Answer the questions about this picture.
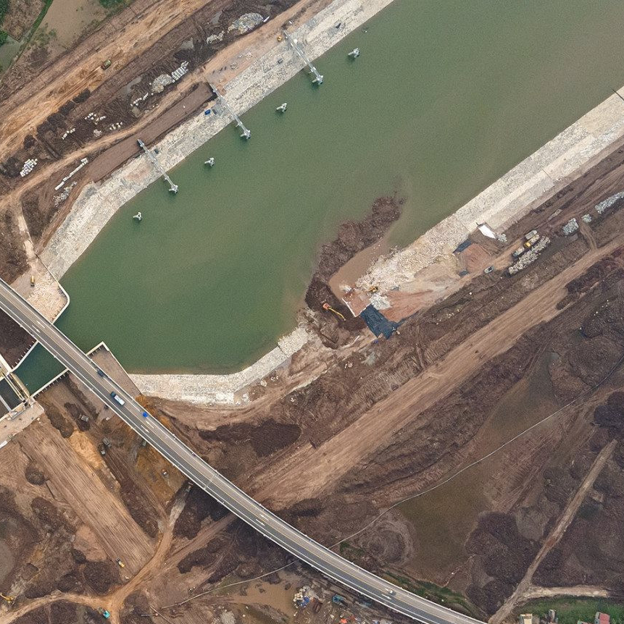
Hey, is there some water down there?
Yes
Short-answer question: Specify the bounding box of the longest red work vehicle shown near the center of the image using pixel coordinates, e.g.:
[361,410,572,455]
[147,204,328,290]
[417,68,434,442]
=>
[322,301,347,322]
